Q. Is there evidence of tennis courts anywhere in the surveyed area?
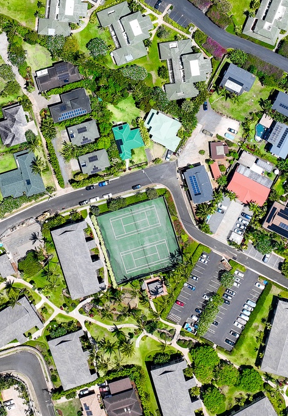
Yes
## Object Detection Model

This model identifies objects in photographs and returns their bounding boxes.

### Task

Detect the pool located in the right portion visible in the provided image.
[253,121,267,142]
